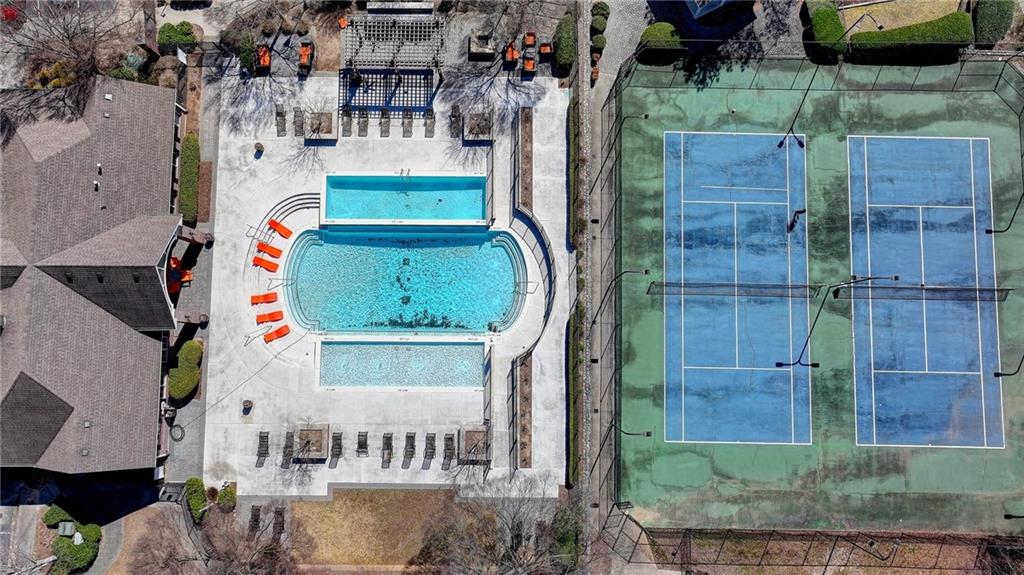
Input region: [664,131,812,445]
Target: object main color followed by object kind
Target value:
blue tennis court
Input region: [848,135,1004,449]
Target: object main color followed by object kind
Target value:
blue tennis court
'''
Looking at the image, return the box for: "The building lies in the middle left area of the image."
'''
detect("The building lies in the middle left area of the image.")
[0,75,201,473]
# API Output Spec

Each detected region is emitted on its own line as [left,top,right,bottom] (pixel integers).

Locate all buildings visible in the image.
[0,75,201,473]
[683,0,732,20]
